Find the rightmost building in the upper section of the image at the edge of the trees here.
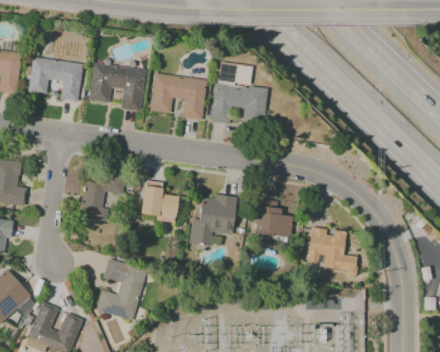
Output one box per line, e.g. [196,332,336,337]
[211,64,270,124]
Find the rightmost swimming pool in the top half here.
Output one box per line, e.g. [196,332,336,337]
[182,51,207,69]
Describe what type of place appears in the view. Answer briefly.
residential area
